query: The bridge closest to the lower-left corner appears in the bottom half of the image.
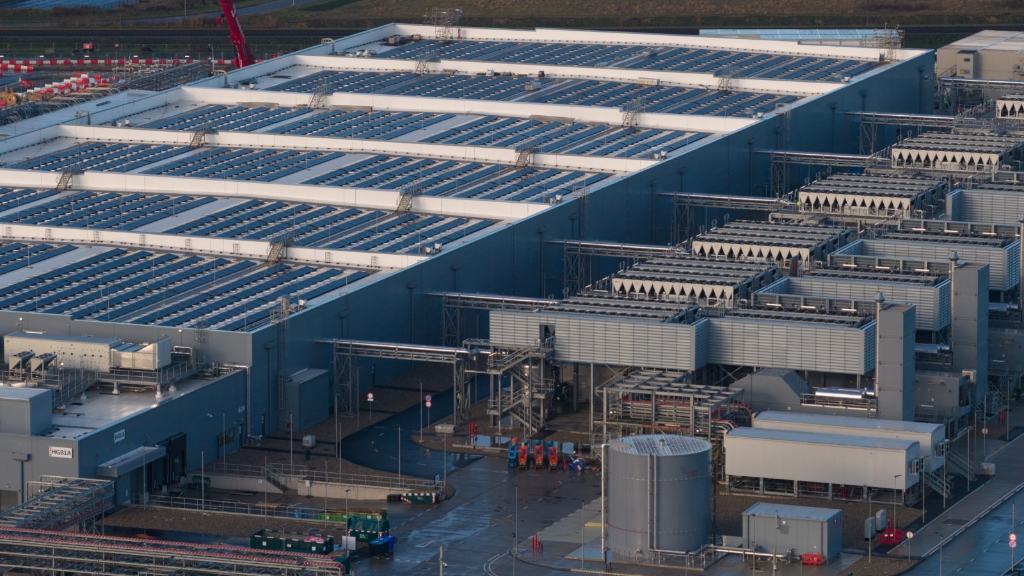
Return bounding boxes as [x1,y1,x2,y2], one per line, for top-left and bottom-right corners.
[0,479,118,561]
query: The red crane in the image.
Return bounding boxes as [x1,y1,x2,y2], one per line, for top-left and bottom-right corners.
[211,0,260,70]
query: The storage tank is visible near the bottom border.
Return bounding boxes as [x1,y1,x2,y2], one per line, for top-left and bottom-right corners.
[567,433,743,572]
